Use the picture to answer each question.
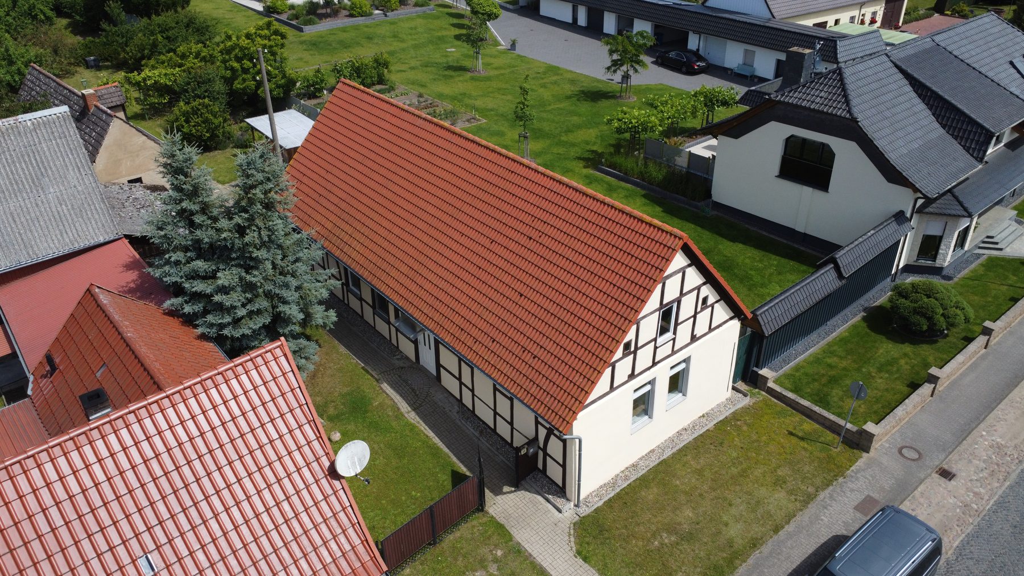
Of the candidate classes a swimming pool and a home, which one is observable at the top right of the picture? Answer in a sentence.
You can see a home at the top right of the picture.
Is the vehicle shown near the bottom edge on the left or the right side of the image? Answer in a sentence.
The vehicle shown near the bottom edge is on the right side of the image.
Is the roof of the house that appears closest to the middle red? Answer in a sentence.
Yes, the roof of the house that appears closest to the middle is indeed red.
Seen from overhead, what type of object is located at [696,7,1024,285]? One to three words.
house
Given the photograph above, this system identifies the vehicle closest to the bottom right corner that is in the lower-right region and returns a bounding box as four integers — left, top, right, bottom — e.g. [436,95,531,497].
[816,507,939,576]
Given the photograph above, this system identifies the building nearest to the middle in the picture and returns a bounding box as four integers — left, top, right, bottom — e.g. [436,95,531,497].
[271,78,757,502]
